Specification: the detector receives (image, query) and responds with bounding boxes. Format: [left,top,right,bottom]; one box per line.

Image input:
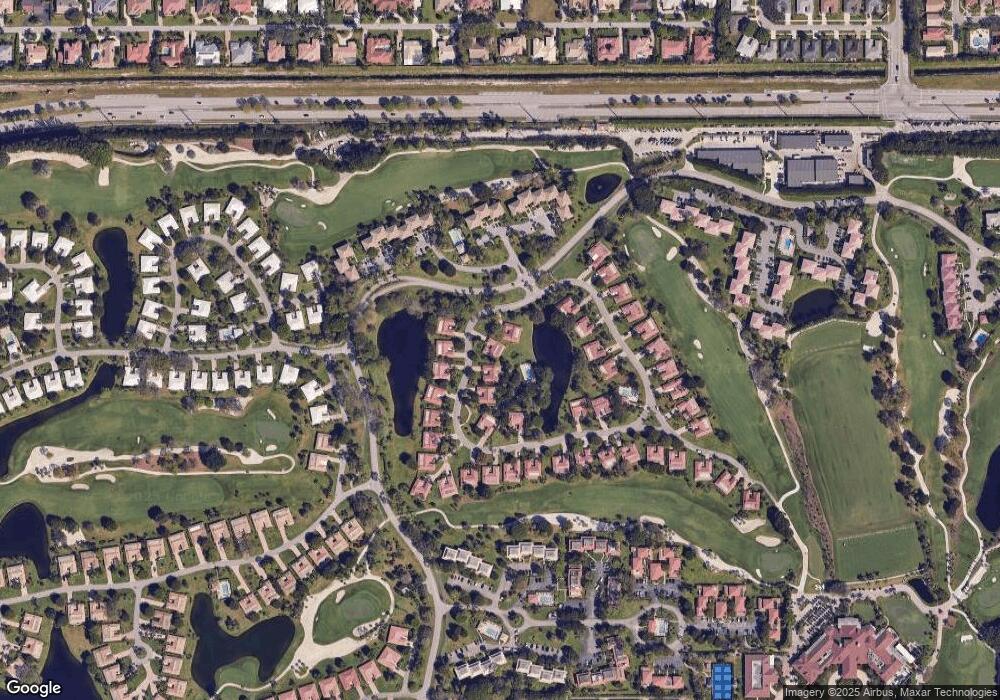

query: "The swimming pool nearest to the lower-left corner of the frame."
[218,579,231,598]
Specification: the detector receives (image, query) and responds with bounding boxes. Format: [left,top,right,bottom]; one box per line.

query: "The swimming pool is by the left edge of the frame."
[4,330,22,356]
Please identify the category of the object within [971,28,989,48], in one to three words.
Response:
swimming pool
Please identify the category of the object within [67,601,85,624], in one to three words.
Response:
house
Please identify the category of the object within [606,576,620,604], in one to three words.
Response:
building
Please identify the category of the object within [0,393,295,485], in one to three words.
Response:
golf course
